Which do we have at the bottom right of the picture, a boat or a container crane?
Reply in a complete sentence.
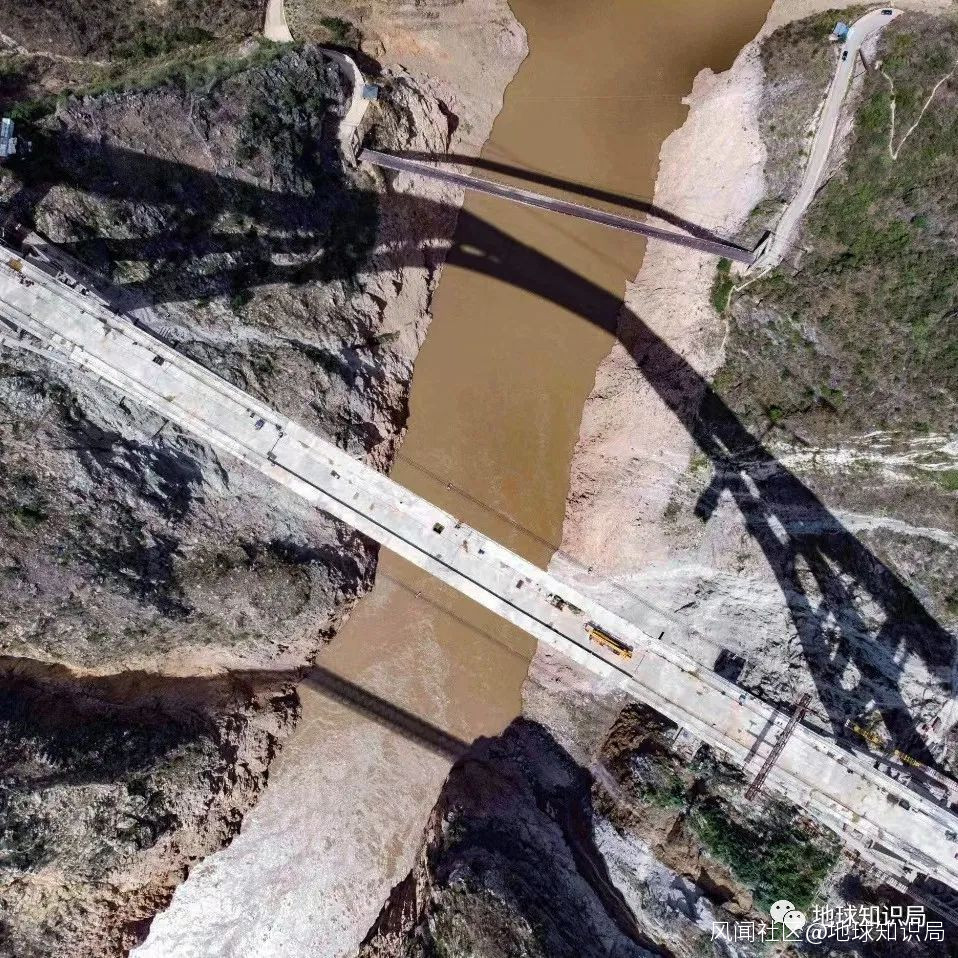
Visible at the bottom right of the picture is a container crane.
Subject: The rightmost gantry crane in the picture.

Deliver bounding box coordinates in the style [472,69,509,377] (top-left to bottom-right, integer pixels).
[739,696,814,799]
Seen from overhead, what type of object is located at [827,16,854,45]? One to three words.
shed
